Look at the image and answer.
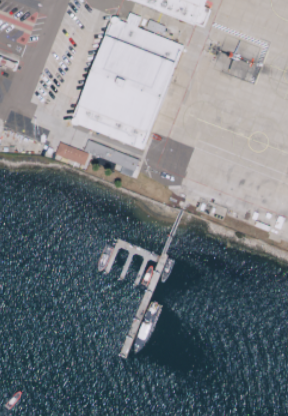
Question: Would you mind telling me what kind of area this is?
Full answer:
This looks like a port.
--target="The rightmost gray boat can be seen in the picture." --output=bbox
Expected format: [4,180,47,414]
[162,259,175,282]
